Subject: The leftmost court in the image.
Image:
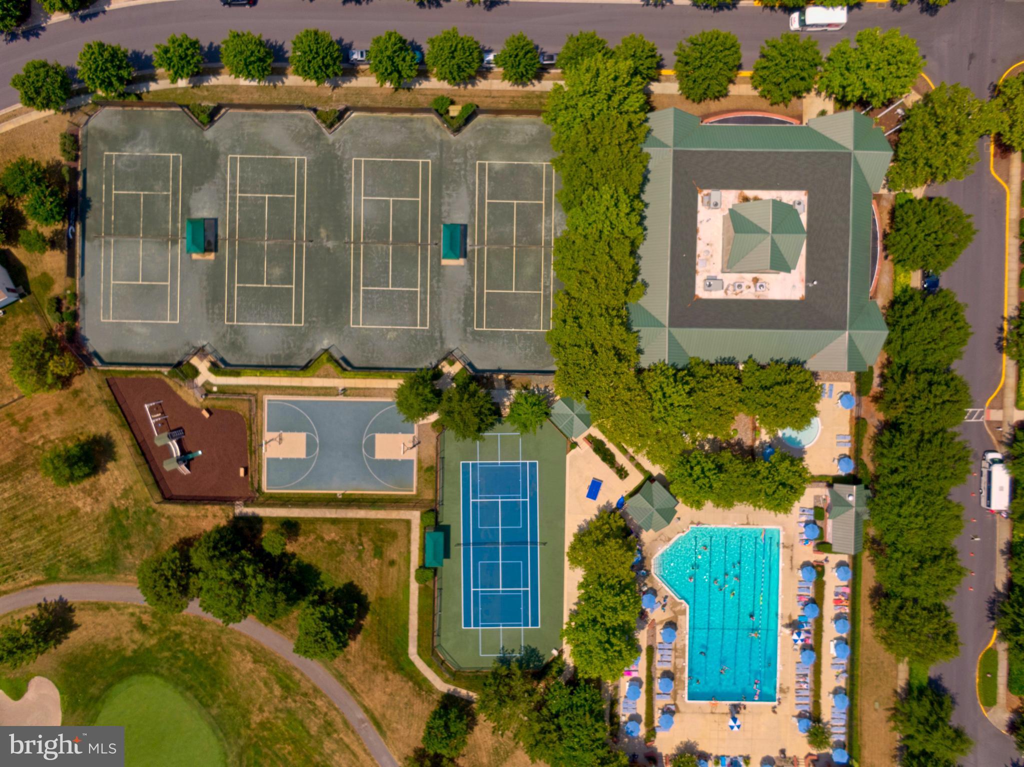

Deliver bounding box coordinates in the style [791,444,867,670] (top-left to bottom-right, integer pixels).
[80,108,205,366]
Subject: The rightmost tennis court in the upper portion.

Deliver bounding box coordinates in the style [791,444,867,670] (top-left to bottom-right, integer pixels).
[450,117,564,373]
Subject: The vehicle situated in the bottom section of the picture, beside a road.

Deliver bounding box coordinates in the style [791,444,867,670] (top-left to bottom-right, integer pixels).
[979,449,1009,511]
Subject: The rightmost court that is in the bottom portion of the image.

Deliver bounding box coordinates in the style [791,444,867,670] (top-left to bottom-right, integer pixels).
[435,419,567,671]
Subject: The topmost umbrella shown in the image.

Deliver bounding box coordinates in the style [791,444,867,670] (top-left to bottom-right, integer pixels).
[839,394,854,408]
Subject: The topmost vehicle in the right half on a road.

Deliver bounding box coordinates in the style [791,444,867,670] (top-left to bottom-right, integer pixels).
[788,6,847,32]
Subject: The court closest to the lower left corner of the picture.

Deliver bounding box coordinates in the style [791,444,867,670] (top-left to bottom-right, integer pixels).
[263,396,418,494]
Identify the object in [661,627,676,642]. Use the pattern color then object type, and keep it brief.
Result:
blue umbrella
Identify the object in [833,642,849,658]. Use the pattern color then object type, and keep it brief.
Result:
blue umbrella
